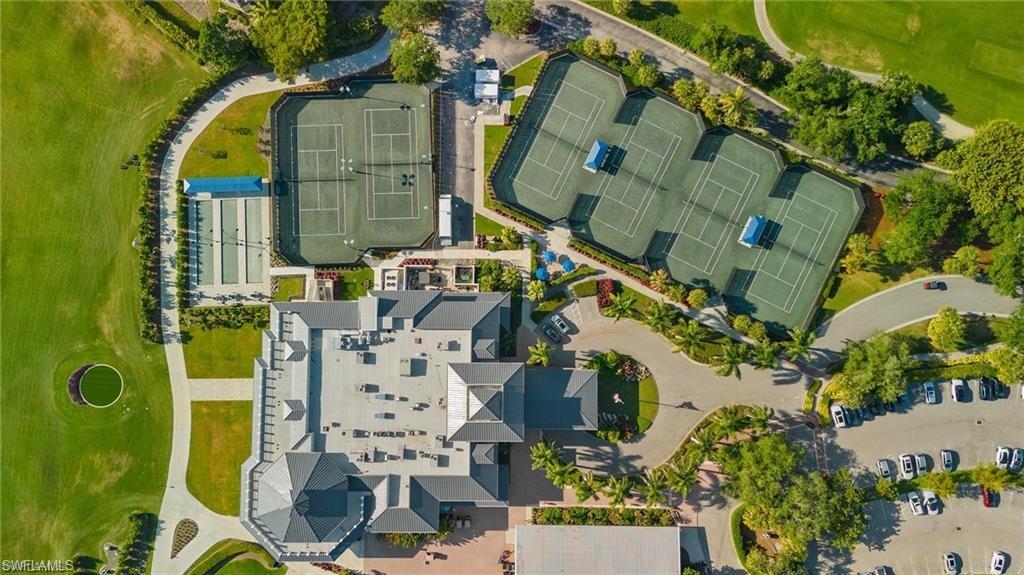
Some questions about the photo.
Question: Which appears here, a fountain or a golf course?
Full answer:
There is a golf course in the scene.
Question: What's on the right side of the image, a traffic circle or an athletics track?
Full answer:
Looking on the right side of the image, you will find a traffic circle.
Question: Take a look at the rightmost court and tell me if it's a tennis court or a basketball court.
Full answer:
The rightmost court can be classified as a tennis court.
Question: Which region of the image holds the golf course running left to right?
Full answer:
You can find the golf course running left to right in the top right area of the picture.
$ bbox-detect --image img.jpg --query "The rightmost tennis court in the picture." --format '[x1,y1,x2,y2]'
[726,168,860,334]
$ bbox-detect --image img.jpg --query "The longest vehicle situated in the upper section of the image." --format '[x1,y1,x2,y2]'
[439,195,452,248]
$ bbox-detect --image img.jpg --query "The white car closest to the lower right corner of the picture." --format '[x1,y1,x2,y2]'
[988,551,1005,574]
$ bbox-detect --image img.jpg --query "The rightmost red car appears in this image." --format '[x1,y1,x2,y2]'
[980,486,993,507]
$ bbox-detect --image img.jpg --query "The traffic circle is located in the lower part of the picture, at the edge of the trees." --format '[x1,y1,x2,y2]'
[541,298,820,479]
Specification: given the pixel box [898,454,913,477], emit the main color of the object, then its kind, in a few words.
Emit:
white car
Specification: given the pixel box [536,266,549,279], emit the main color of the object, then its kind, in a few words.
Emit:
blue umbrella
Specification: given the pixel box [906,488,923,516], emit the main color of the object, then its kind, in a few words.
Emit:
white car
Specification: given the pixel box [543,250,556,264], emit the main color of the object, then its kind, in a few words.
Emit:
blue umbrella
